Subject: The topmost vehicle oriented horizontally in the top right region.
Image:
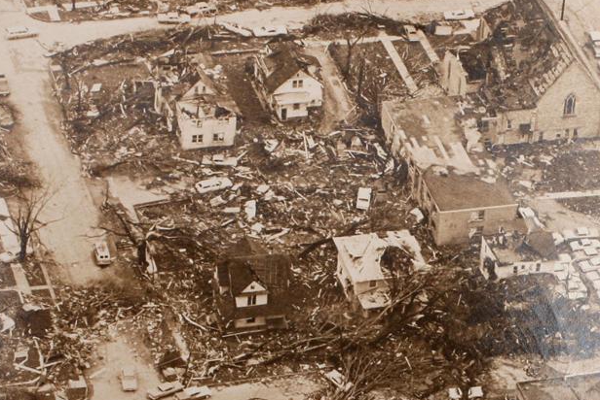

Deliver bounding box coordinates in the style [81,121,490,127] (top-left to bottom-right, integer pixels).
[441,8,478,21]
